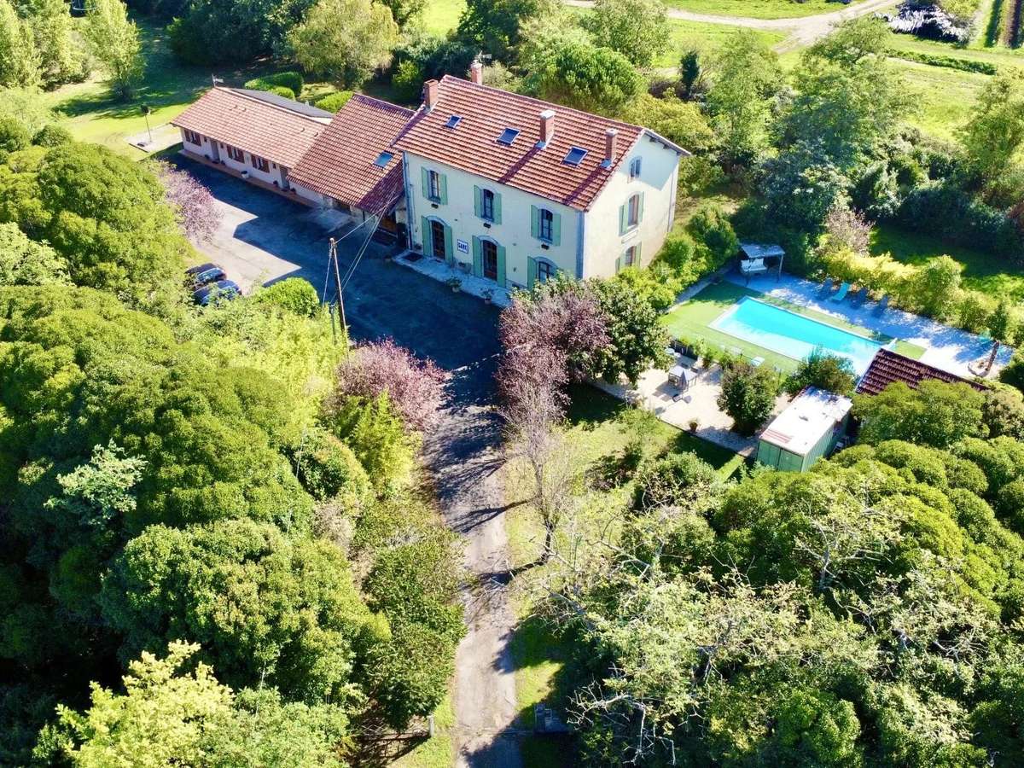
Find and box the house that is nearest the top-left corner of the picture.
[172,83,341,213]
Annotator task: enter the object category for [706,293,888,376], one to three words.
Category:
swimming pool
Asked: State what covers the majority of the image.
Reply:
trees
